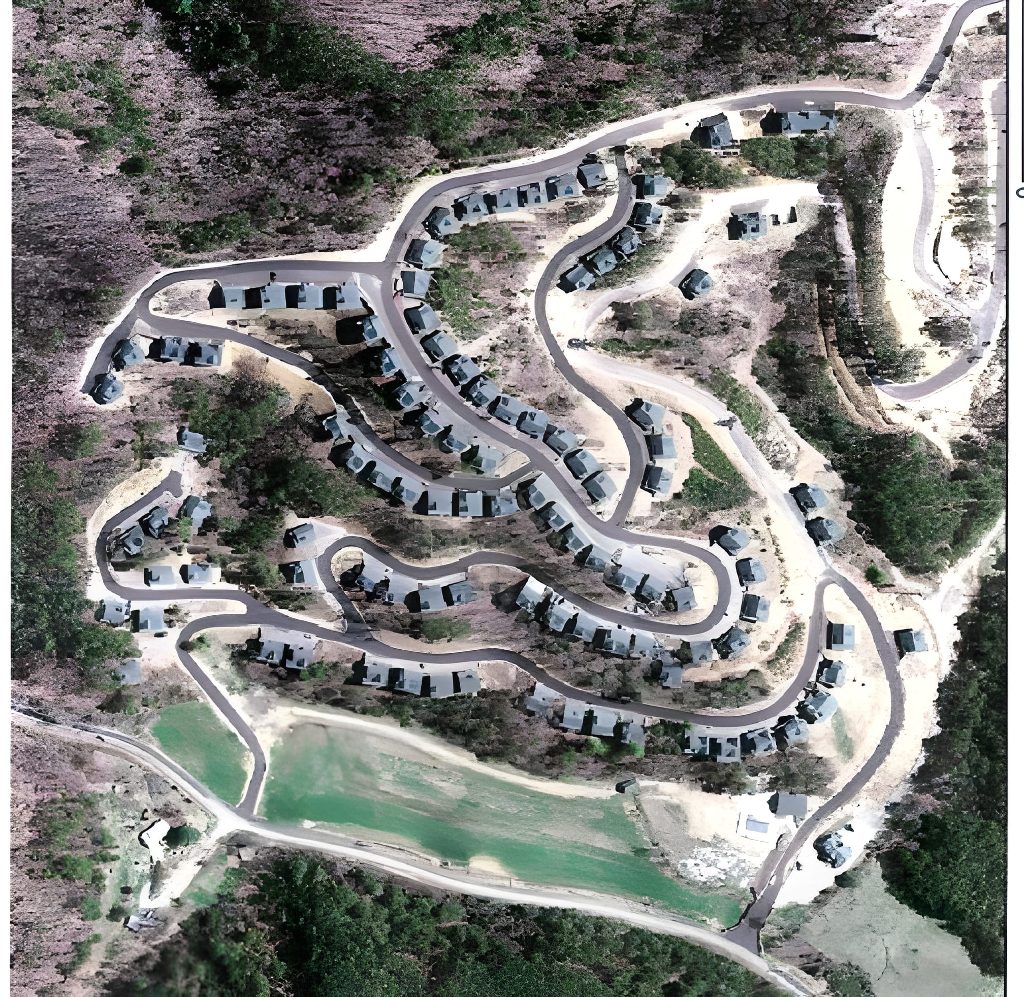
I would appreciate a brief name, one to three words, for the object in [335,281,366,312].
house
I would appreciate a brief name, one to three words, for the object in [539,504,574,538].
house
